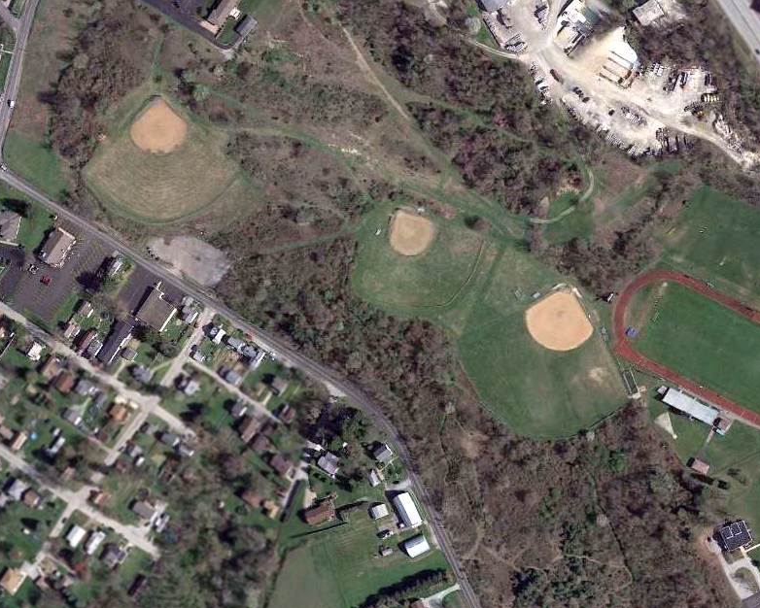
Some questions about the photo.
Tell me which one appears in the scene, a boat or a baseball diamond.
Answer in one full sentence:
Of the two, only a baseball diamond appears.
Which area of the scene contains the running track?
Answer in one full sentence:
You can find the running track in the right area of the picture.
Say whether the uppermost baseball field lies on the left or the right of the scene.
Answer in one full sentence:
You can find the uppermost baseball field on the left side of the picture.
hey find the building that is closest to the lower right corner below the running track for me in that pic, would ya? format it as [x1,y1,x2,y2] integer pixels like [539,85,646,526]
[721,521,753,551]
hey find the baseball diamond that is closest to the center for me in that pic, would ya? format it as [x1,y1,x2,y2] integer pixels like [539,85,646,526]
[354,202,487,308]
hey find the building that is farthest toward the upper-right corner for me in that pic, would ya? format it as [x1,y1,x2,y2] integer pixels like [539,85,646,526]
[634,0,665,26]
